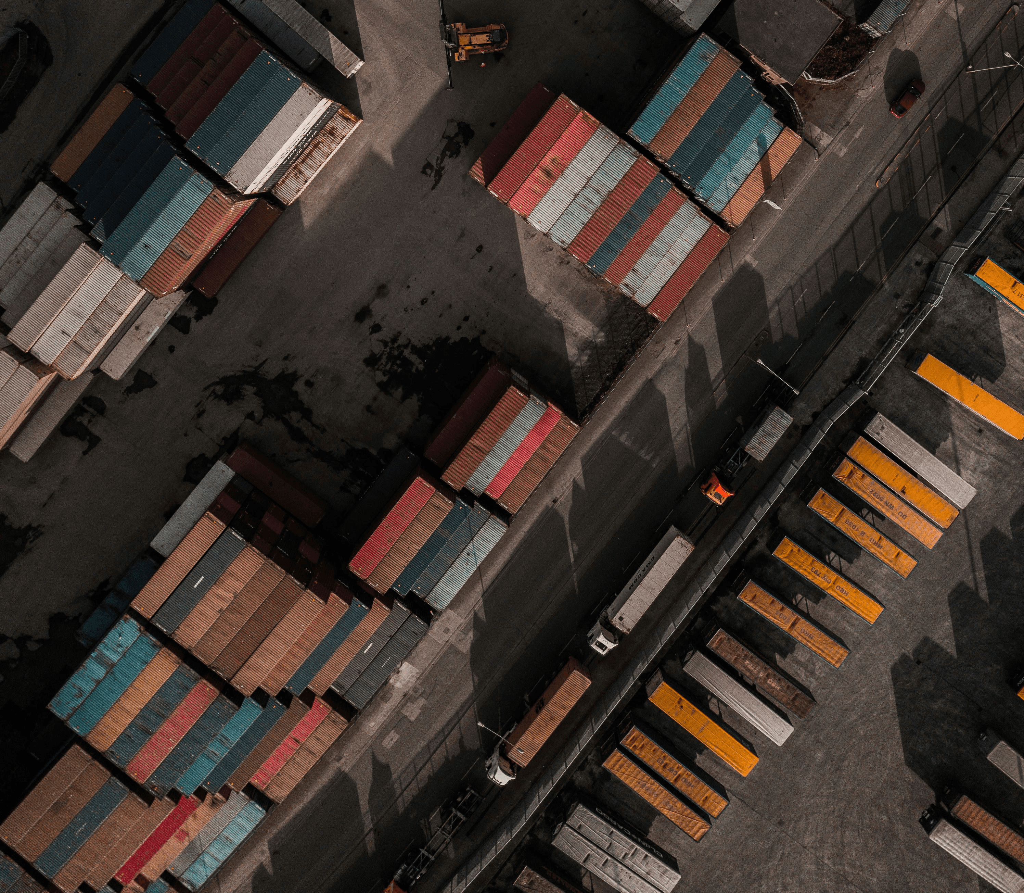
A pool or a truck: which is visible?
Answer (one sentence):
The one in the frame is a truck.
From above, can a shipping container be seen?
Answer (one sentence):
Yes, looking at the shot, I can spot a shipping container.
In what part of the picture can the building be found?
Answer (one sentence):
The building is in the top right part of the image.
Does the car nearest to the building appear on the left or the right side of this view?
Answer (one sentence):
The car nearest to the building appears in the right half of the scene.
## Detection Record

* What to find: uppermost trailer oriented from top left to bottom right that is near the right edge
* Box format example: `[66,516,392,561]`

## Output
[961,255,1024,319]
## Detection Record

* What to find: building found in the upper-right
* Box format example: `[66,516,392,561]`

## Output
[719,0,843,86]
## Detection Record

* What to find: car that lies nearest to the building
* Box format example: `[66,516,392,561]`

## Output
[890,78,927,121]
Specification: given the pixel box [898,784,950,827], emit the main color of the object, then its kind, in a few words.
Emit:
black truck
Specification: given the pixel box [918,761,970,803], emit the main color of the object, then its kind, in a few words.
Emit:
black truck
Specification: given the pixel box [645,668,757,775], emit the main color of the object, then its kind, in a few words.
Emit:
orange trailer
